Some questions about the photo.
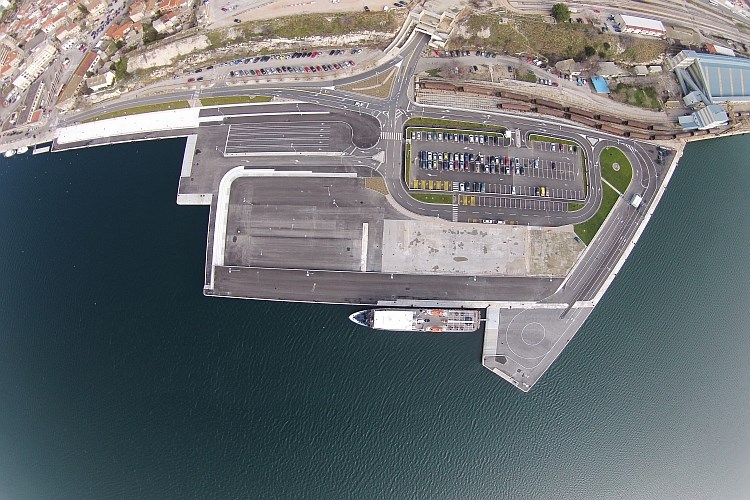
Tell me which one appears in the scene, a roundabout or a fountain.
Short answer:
roundabout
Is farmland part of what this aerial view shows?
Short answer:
No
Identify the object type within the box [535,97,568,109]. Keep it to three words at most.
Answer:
rail car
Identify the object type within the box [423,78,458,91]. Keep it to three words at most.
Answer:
rail car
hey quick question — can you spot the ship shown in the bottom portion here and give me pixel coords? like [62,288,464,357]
[349,307,482,332]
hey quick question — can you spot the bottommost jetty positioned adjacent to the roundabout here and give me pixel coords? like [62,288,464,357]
[483,288,593,391]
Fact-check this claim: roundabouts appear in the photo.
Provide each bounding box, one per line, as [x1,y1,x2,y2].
[574,146,634,244]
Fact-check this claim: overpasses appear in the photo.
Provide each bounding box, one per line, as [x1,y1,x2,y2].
[384,9,455,61]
